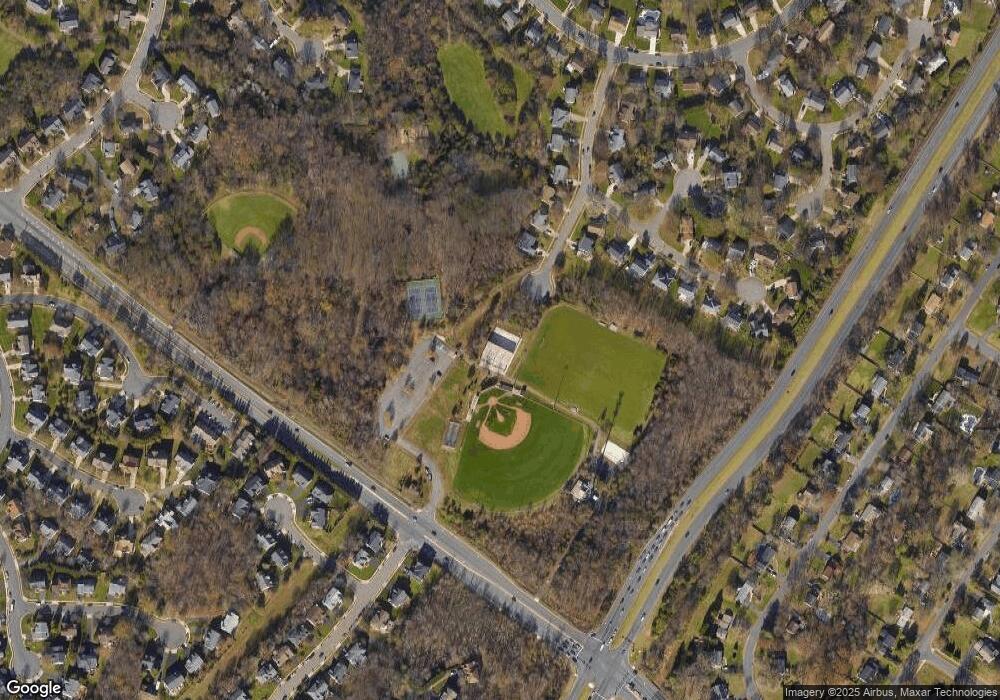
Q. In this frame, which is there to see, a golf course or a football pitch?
football pitch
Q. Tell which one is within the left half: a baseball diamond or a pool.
baseball diamond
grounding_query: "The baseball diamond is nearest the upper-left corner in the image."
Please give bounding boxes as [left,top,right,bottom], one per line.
[209,192,296,257]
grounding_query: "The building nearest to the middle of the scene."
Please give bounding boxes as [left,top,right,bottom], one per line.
[480,329,520,379]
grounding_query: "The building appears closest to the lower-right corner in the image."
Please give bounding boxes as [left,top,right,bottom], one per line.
[976,637,999,663]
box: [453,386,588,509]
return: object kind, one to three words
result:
baseball field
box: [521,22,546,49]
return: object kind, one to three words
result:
house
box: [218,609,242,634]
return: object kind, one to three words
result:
house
